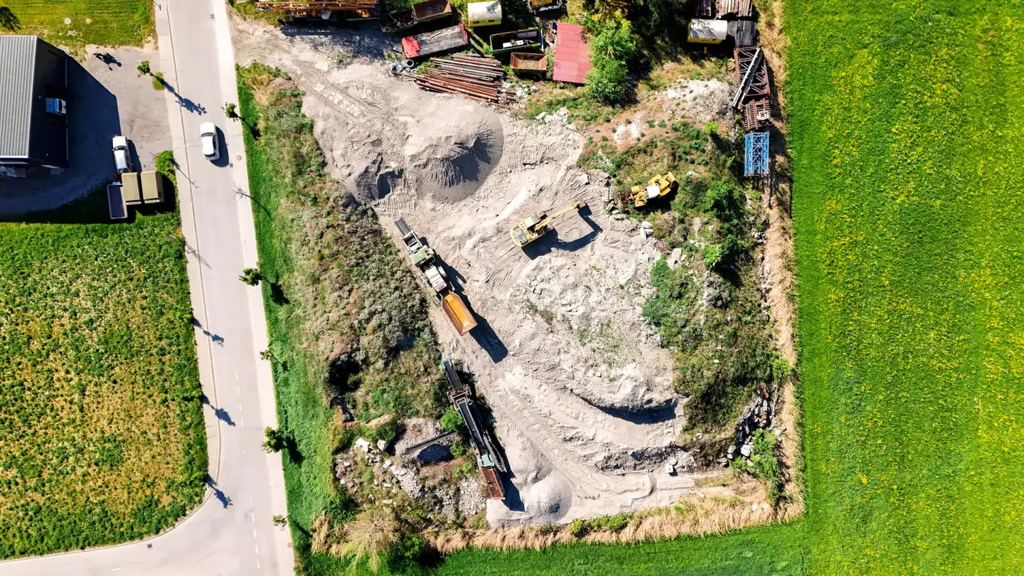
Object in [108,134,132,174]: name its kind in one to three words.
car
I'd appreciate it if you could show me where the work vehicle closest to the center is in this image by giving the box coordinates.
[506,198,582,250]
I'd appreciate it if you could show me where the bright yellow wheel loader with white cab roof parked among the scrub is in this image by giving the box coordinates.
[619,171,681,214]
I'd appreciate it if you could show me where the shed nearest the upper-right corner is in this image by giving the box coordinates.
[687,22,726,46]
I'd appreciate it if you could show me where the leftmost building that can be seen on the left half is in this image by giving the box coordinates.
[0,31,71,167]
